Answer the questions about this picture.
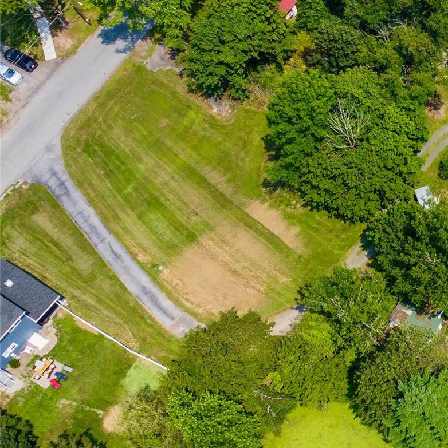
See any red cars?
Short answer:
No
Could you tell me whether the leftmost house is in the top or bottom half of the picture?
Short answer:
bottom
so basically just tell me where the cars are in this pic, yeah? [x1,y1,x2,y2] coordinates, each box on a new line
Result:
[0,64,29,88]
[0,45,42,74]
